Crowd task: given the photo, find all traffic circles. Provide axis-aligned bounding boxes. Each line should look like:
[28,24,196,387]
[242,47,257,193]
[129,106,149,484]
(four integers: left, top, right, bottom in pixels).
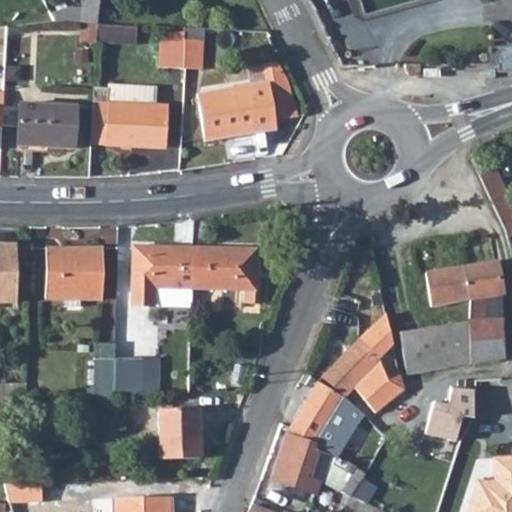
[309,92,436,230]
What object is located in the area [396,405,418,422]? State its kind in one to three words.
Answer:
car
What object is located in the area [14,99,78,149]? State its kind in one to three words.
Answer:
house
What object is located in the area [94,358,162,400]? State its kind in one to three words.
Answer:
building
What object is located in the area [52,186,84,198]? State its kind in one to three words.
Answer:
vehicle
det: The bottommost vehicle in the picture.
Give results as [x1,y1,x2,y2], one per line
[264,485,288,502]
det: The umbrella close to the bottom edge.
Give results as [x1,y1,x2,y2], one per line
[318,492,332,506]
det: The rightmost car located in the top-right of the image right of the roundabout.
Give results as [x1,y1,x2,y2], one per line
[452,100,476,112]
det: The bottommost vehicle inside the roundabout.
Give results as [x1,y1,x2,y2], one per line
[384,169,411,186]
